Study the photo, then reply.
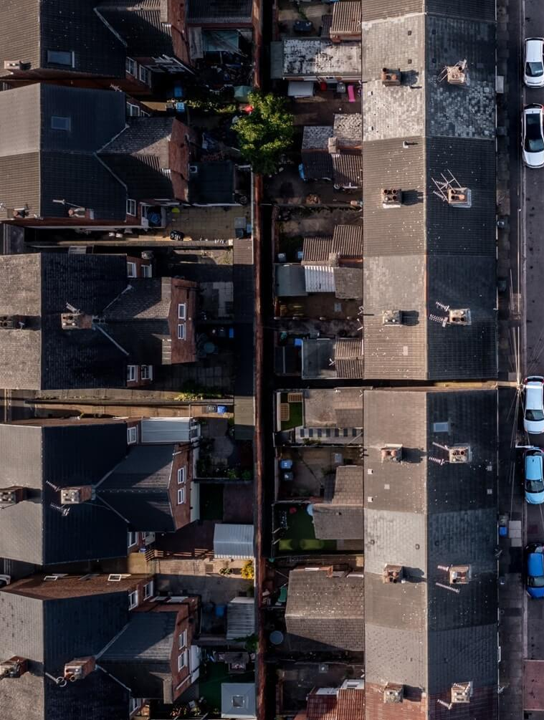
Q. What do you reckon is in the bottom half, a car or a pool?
car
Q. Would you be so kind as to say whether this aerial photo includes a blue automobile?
Yes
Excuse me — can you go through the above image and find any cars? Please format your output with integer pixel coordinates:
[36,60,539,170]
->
[524,37,544,87]
[519,447,544,504]
[522,103,544,169]
[520,542,544,598]
[520,376,544,433]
